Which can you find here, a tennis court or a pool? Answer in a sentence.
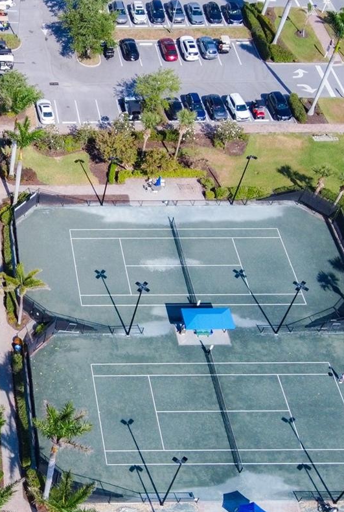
Of the two, only a tennis court appears.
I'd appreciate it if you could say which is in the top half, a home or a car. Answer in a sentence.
Visible in the top half is a car.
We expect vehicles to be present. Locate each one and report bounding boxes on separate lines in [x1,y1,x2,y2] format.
[199,35,219,57]
[168,0,187,21]
[0,38,7,48]
[221,0,241,22]
[120,87,142,118]
[130,0,148,22]
[186,89,207,117]
[121,36,140,59]
[186,1,204,22]
[36,97,54,121]
[251,97,265,116]
[228,90,251,118]
[103,39,116,58]
[111,0,130,22]
[207,90,231,118]
[160,37,179,59]
[0,55,14,71]
[268,89,292,117]
[217,30,233,50]
[149,0,167,21]
[163,89,184,117]
[0,14,10,31]
[0,0,14,8]
[0,48,13,63]
[202,1,221,21]
[181,37,200,59]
